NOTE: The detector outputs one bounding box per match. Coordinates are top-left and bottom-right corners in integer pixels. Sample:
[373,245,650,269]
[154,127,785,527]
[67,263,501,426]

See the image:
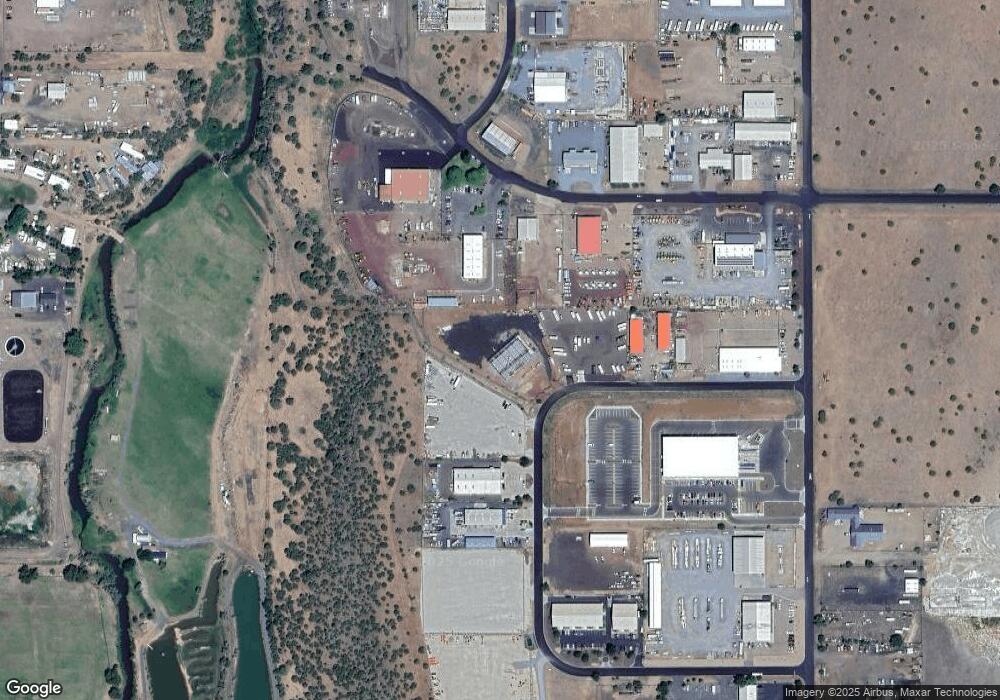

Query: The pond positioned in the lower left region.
[233,571,271,700]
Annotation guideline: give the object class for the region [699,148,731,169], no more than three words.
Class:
building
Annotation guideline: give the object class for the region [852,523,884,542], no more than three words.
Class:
barn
